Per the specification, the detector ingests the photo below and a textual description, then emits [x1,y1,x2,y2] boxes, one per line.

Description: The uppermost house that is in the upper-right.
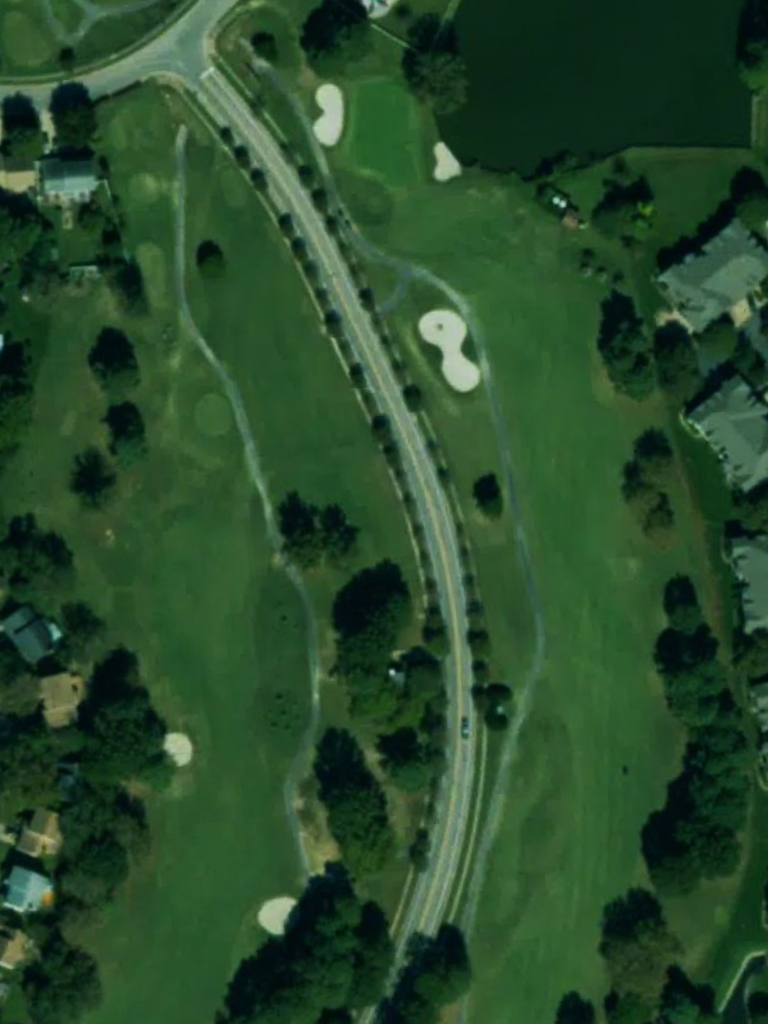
[660,219,768,327]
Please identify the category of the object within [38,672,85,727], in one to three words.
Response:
house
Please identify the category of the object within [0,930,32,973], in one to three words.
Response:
house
